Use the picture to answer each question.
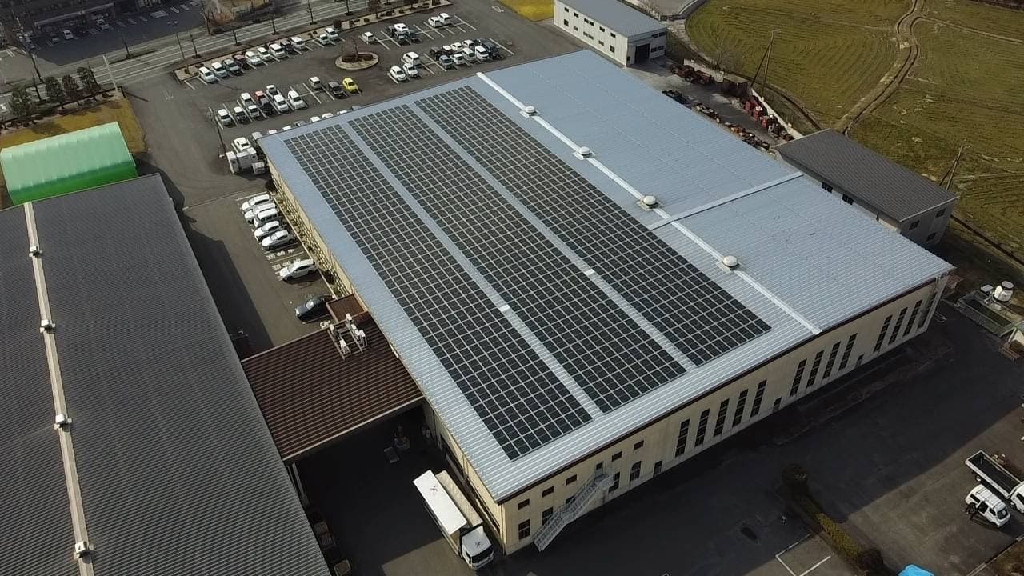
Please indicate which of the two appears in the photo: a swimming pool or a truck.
truck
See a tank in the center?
No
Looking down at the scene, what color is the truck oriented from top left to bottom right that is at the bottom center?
white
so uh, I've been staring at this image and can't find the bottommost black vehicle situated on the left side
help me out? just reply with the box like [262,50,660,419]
[291,295,334,322]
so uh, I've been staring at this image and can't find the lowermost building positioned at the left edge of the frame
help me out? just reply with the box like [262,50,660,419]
[0,173,330,576]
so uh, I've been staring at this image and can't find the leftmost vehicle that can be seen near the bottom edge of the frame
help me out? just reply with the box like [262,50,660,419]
[413,462,500,571]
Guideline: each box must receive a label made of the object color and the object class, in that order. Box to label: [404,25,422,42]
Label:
black car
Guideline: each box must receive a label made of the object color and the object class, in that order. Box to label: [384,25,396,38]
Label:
black vehicle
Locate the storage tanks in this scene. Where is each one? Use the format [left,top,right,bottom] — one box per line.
[986,277,1019,309]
